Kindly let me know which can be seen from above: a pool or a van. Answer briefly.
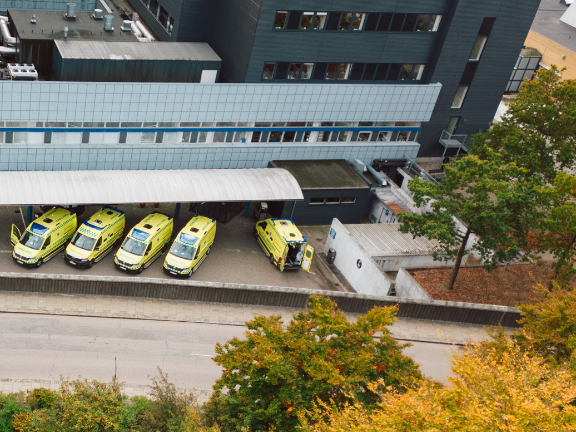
van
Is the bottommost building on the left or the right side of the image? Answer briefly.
right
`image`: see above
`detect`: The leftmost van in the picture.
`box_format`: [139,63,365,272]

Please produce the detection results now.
[11,203,78,269]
